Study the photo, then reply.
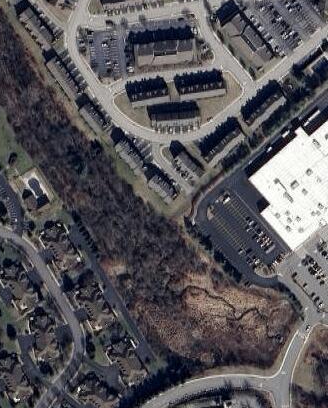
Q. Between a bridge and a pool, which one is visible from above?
pool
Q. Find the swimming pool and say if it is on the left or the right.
left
